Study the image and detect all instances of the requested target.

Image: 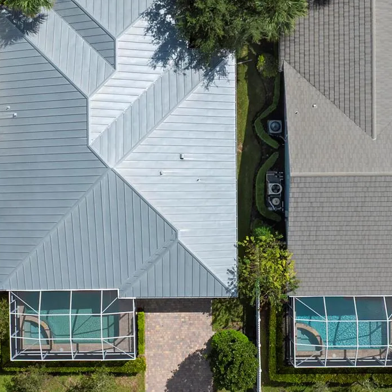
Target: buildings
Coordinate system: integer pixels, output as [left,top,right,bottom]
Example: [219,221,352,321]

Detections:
[278,0,392,297]
[0,0,239,298]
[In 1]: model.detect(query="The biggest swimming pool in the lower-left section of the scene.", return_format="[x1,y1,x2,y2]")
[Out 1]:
[20,293,123,347]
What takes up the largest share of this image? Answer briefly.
buildings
